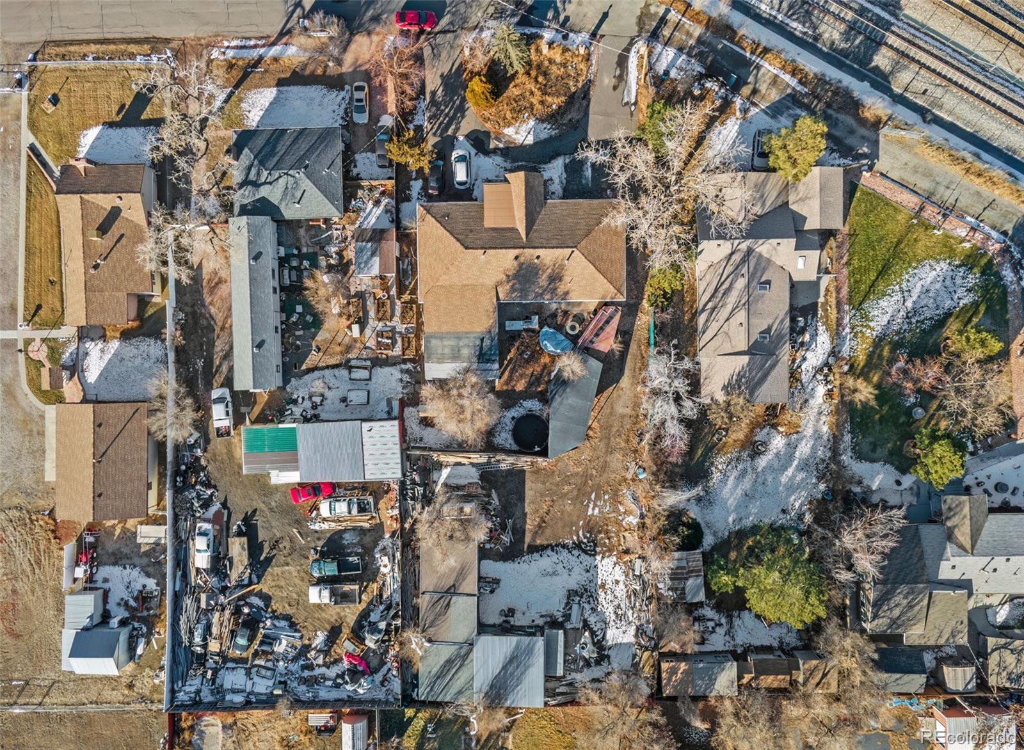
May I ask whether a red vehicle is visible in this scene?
Yes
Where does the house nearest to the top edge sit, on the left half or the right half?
left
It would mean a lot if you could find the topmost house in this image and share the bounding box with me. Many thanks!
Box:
[226,127,344,220]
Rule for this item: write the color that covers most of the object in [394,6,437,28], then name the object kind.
red car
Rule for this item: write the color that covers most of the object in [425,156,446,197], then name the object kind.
black car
